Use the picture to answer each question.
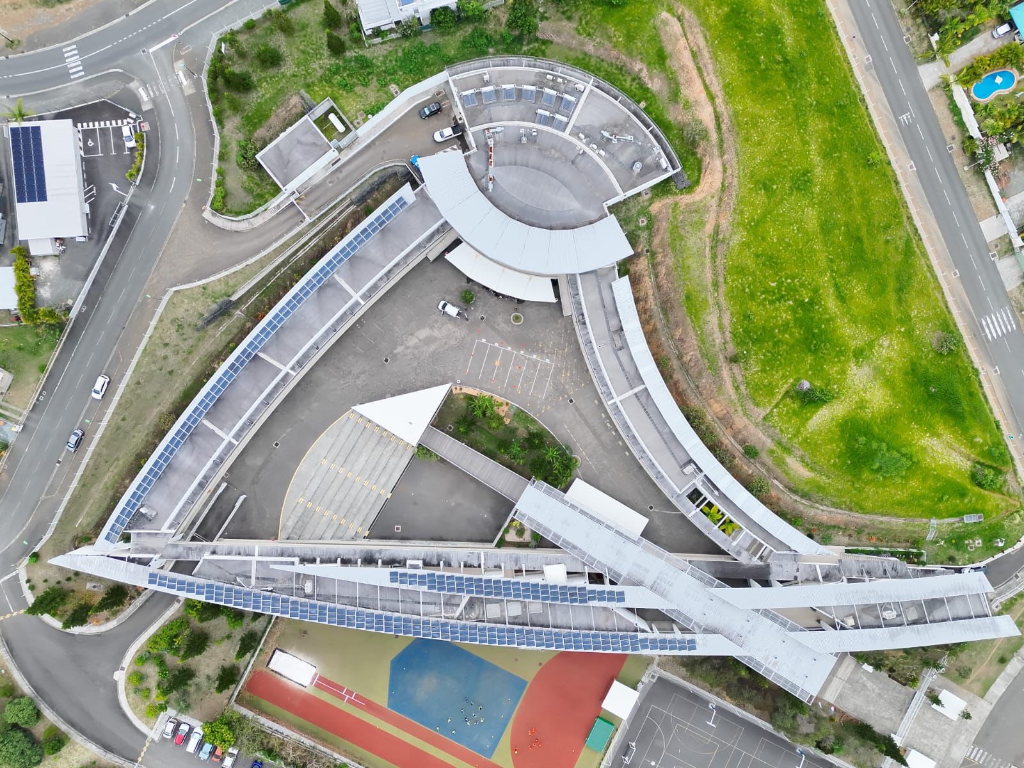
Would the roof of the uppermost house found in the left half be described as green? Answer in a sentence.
No, the roof of the uppermost house found in the left half is white.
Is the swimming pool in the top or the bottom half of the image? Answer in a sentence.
You can find the swimming pool in the top half.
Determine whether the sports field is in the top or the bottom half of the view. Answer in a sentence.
Seen from above, the sports field lies in the bottom half of the view.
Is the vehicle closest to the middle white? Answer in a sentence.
Yes, the vehicle closest to the middle is indeed white.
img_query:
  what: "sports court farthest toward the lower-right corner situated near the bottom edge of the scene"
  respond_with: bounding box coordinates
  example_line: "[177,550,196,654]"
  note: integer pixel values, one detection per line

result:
[582,669,861,768]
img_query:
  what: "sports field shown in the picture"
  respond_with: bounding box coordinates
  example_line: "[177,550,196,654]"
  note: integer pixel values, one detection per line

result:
[234,616,651,768]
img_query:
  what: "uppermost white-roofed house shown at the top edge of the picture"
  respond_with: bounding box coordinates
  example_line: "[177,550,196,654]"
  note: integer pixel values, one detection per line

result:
[359,0,458,50]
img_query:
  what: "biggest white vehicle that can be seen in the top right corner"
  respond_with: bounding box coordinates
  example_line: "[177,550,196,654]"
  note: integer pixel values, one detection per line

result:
[990,18,1016,37]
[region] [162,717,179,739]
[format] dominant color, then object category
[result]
white car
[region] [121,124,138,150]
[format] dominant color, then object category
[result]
white car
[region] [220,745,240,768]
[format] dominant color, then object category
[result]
white vehicle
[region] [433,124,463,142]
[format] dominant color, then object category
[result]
white vehicle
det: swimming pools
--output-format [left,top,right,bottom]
[969,67,1019,103]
